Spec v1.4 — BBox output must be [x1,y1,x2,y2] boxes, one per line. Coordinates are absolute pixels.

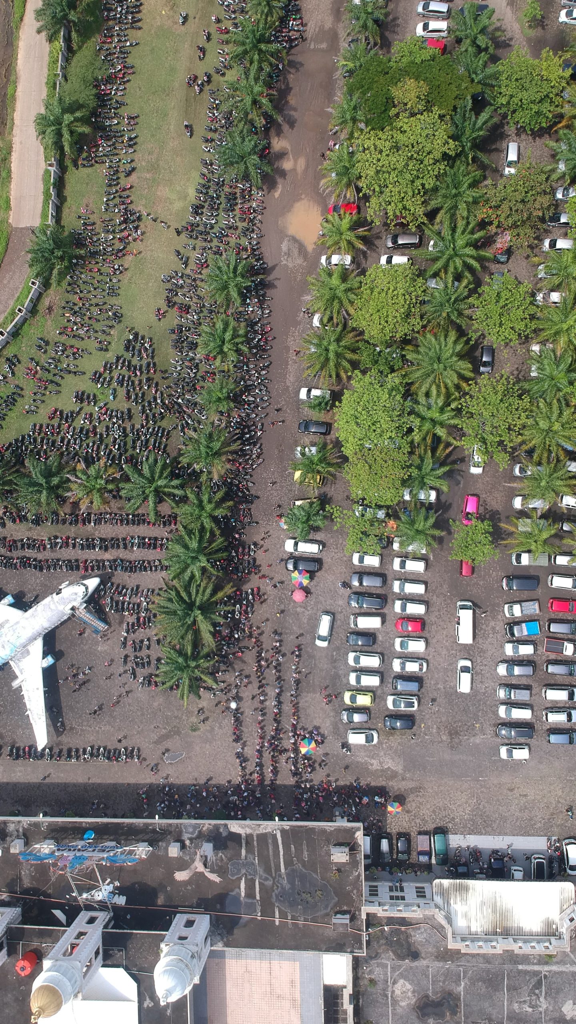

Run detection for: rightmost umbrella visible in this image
[387,799,402,815]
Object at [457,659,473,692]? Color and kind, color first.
white car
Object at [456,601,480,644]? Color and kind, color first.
white vehicle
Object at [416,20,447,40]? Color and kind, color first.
white car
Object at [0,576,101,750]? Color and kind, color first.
white airplane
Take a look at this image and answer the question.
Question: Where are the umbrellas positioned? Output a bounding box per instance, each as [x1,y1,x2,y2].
[292,569,310,587]
[280,516,290,529]
[387,799,402,815]
[300,737,317,754]
[293,589,306,602]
